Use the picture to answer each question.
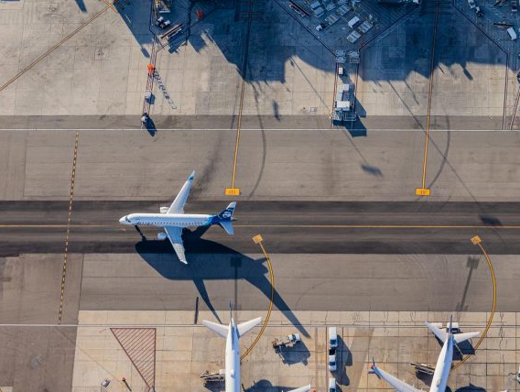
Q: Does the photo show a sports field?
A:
No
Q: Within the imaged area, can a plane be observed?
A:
Yes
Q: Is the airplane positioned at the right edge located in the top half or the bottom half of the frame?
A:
bottom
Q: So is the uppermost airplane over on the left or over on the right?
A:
left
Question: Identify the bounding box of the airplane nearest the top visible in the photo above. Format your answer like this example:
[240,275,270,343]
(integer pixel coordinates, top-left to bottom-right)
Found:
[120,171,236,265]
